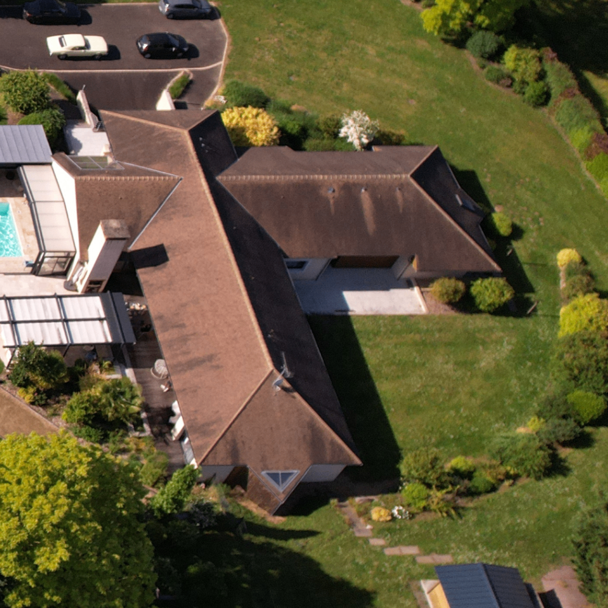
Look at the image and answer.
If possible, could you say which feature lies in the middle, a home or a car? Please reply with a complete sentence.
Visible in the middle is a home.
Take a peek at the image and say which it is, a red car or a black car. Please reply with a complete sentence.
The one in the frame is a black car.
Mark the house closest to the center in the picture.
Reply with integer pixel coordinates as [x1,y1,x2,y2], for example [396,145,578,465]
[51,109,503,510]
